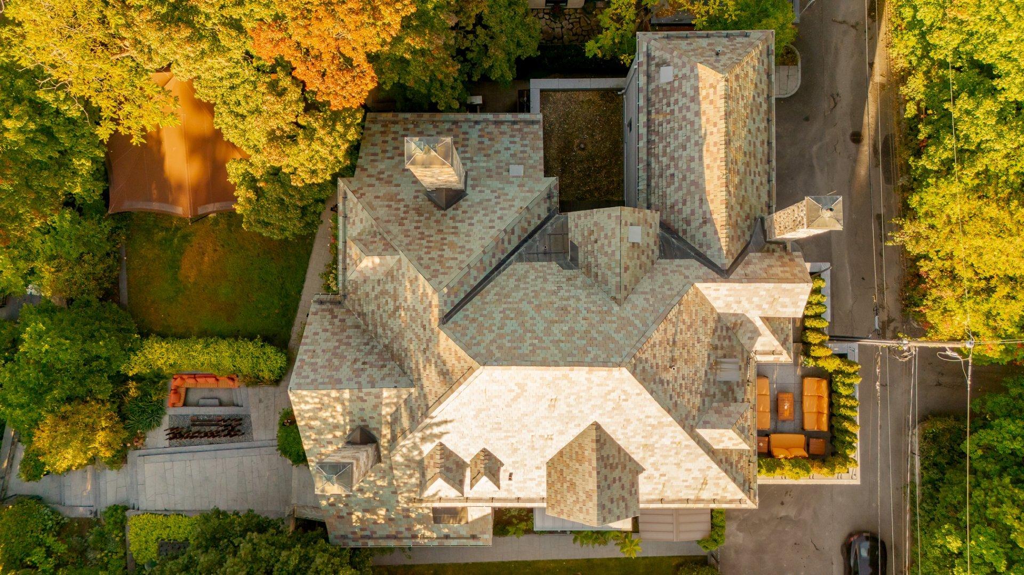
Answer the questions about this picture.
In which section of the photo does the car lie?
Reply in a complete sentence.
Look in the bottom right portion of the view to spot the car.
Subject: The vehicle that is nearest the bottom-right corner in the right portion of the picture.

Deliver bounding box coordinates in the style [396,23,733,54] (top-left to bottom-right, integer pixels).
[837,529,887,575]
